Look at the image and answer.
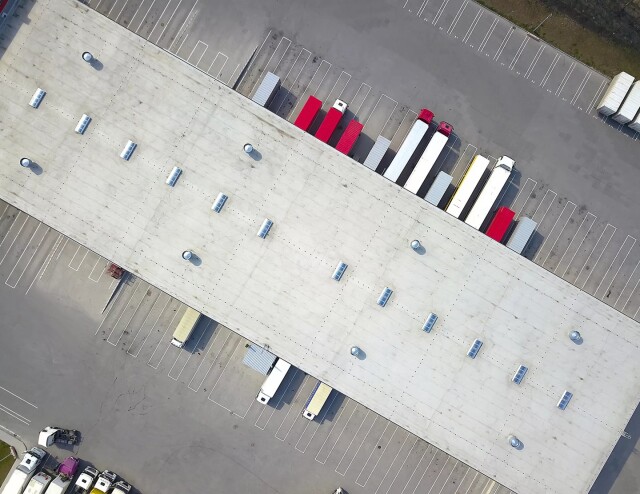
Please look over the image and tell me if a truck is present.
Yes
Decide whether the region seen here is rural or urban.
urban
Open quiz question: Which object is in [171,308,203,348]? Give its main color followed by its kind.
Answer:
white truck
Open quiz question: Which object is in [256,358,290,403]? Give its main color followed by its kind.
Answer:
white truck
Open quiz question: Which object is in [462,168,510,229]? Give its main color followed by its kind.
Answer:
white trailer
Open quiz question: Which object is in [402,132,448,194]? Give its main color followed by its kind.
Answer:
white trailer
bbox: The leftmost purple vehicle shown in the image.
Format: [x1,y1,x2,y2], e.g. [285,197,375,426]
[60,455,83,477]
